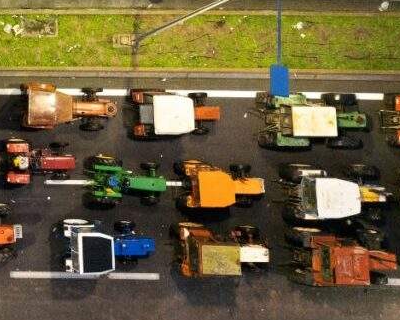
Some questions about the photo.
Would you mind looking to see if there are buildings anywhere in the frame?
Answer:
No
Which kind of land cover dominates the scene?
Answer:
paved ground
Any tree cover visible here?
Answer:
No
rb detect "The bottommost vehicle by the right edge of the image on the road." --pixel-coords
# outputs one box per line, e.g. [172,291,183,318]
[281,228,395,289]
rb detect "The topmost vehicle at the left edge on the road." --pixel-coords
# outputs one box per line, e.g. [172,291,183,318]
[12,83,109,135]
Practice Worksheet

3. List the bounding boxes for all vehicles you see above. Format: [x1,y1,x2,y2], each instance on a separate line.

[0,140,76,184]
[272,164,383,222]
[369,95,400,146]
[281,228,395,289]
[12,83,109,135]
[81,158,166,209]
[123,89,219,138]
[165,223,269,283]
[250,95,365,146]
[170,160,264,212]
[51,218,155,275]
